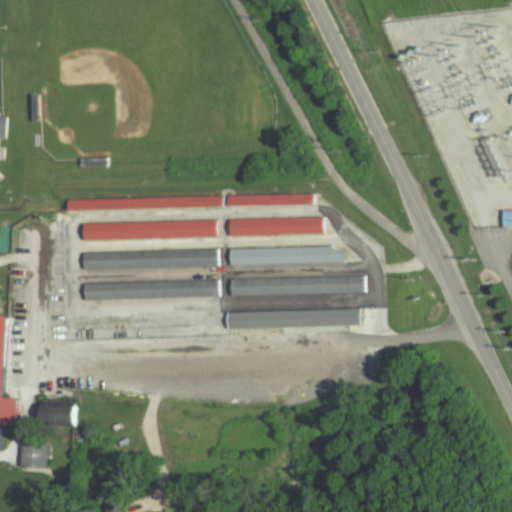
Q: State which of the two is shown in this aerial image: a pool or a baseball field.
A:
baseball field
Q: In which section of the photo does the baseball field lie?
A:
top left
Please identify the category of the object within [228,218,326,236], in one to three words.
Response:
building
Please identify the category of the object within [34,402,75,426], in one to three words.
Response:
barn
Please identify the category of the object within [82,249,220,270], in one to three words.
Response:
building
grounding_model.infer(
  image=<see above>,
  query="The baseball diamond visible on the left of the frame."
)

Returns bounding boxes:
[43,48,152,158]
